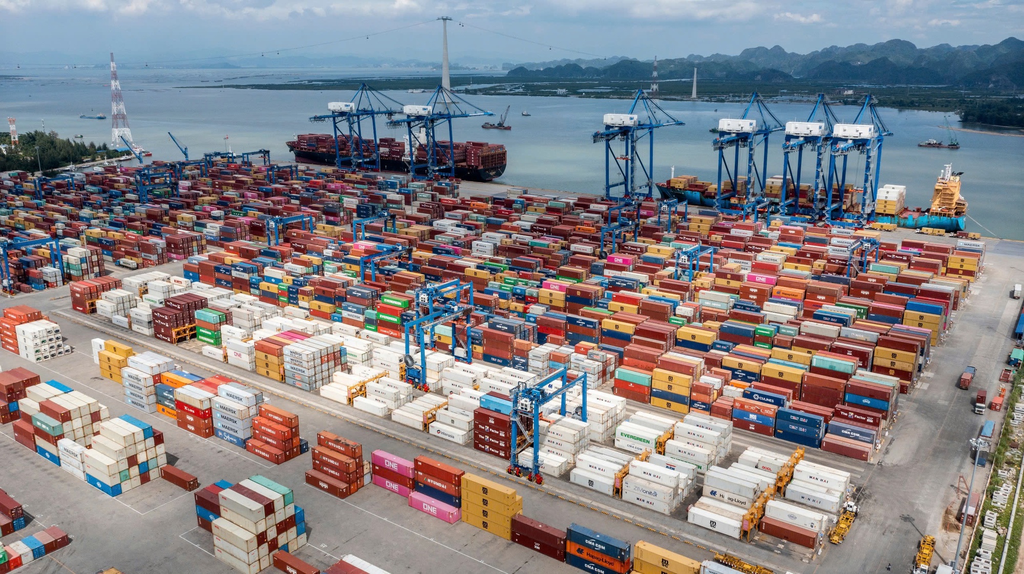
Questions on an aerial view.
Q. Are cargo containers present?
Yes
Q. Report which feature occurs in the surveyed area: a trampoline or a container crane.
container crane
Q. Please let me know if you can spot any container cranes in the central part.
Yes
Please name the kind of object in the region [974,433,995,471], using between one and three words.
truck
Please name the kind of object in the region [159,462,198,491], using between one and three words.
shipping container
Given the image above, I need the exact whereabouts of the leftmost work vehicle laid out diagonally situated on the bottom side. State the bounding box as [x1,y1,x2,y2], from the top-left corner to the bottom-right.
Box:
[834,490,871,535]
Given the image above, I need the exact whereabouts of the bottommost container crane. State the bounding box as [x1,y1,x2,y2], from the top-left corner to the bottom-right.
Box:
[504,361,603,485]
